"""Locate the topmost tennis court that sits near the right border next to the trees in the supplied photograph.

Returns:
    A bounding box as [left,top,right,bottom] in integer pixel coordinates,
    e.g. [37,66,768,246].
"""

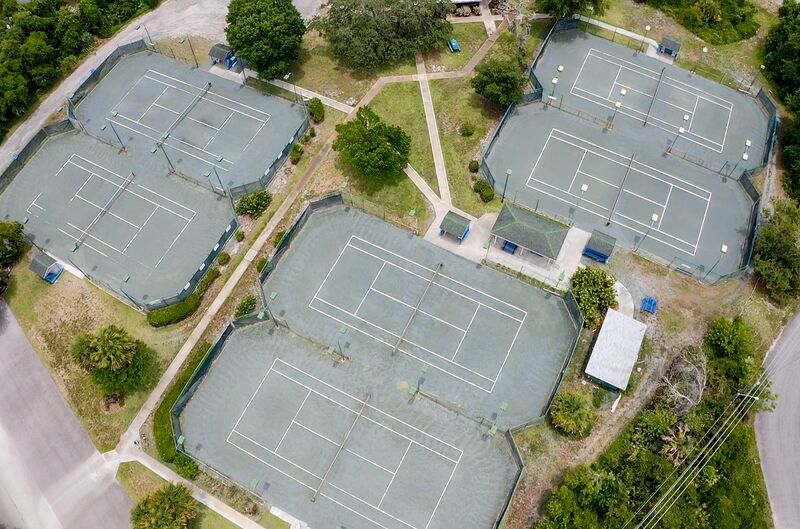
[531,29,768,177]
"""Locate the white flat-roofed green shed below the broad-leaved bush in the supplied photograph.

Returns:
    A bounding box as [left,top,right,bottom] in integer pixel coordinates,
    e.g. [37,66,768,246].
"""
[580,309,648,394]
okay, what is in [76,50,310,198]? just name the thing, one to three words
tennis court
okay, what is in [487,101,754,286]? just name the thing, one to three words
tennis court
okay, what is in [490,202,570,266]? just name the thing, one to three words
building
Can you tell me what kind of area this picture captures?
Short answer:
sports ground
